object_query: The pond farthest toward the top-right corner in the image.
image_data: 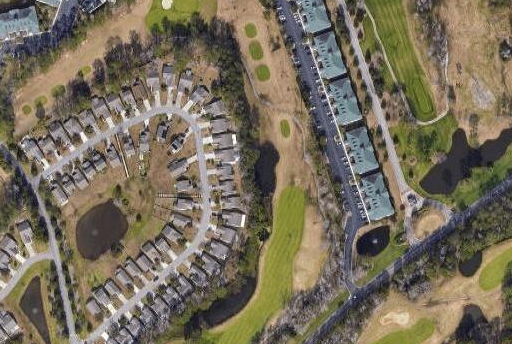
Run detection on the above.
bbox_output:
[420,128,512,196]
